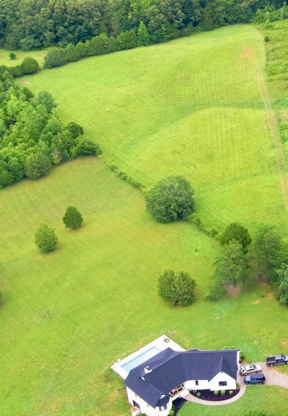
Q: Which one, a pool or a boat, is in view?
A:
pool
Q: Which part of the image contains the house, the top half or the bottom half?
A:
bottom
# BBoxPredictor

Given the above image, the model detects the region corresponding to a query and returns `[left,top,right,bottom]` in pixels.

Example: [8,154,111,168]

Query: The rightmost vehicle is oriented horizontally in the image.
[265,353,288,365]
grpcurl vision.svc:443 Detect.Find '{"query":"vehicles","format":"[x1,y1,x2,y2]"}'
[240,362,262,373]
[265,353,288,365]
[243,372,265,385]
